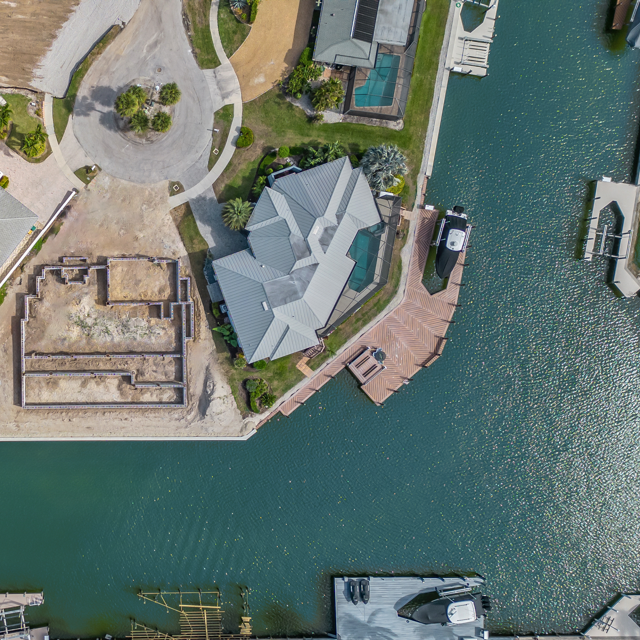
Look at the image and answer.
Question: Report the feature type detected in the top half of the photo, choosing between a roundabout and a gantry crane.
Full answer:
Visible in the top half of the photo is a roundabout.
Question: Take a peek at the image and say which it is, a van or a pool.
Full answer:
I can see a pool in this picture.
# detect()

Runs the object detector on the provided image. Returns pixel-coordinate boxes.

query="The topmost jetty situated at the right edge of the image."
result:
[604,0,631,31]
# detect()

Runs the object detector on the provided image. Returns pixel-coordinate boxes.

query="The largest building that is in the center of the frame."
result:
[213,156,383,364]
